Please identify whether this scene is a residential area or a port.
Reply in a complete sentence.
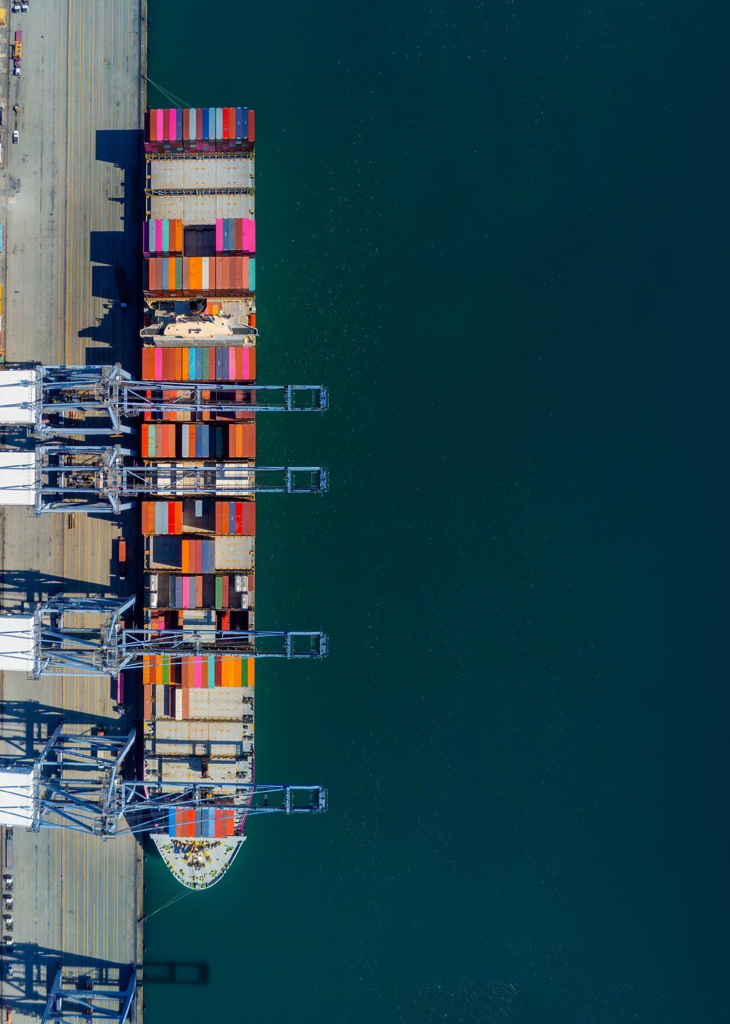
This image shows a port.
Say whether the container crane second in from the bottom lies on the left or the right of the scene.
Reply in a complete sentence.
The container crane second in from the bottom is on the left side of the image.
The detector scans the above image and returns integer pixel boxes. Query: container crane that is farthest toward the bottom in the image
[35,955,136,1024]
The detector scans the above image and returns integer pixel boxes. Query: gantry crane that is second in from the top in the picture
[0,443,326,521]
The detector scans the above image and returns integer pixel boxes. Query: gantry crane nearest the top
[0,364,328,445]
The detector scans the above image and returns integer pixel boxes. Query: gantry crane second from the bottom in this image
[0,717,329,845]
